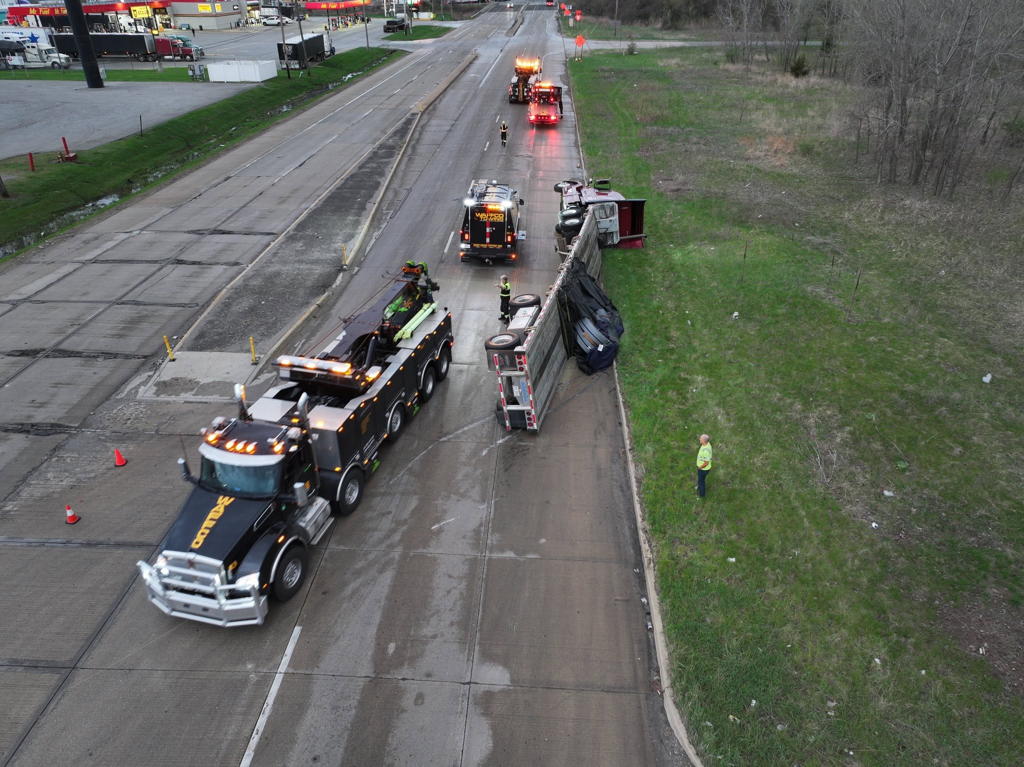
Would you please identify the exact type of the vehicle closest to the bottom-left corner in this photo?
truck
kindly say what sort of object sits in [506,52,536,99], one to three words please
truck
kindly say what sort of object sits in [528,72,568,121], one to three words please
truck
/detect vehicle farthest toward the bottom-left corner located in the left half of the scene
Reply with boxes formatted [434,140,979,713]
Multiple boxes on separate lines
[138,253,456,631]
